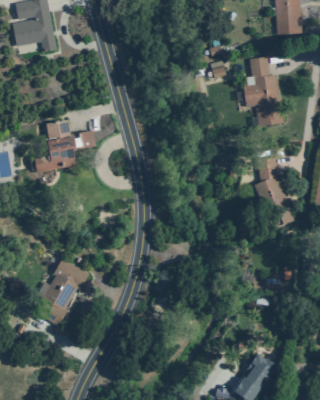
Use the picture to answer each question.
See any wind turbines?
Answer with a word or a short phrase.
No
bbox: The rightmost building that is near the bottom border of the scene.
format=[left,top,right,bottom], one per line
[234,355,275,400]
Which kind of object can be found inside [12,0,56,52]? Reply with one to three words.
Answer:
house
